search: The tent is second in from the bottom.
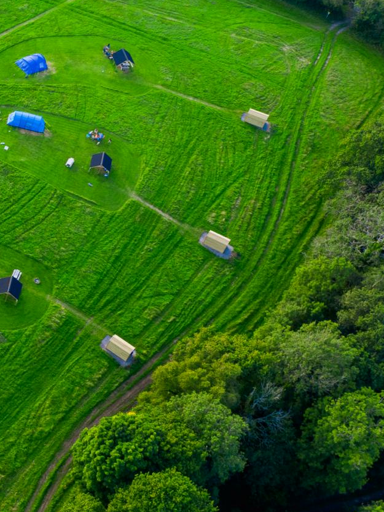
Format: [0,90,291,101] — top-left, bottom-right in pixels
[197,233,230,261]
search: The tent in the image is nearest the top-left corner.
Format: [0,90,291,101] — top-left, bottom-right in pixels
[16,50,49,76]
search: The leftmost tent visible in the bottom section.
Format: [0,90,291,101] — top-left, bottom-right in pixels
[102,336,136,366]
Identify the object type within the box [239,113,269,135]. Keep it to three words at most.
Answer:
tent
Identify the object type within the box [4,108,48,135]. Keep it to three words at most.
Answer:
tent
